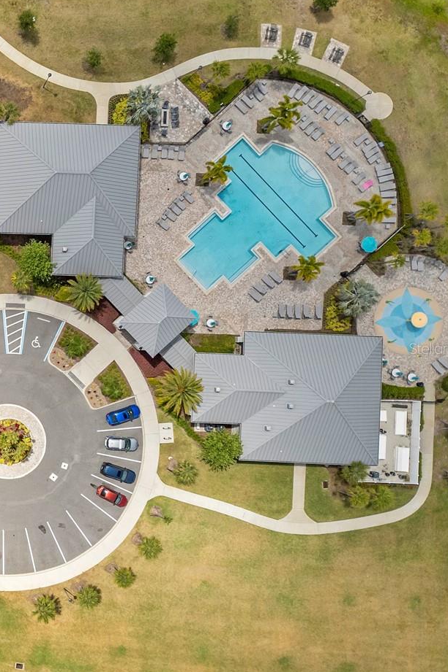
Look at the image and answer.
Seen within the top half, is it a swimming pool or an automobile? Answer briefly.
swimming pool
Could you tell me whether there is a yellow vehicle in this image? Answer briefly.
No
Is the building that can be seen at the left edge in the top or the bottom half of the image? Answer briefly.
top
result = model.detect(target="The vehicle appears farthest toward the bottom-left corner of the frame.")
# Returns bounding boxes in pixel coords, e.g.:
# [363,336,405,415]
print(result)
[95,484,128,508]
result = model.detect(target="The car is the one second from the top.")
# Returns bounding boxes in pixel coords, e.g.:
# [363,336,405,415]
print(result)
[104,437,139,454]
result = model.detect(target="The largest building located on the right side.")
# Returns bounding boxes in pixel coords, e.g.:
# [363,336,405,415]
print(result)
[191,333,382,464]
